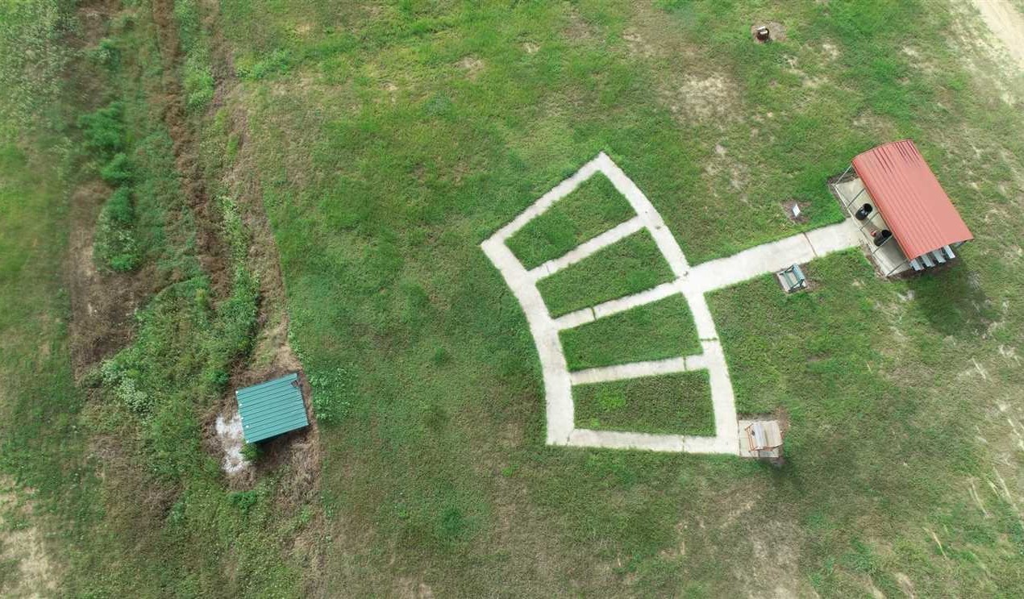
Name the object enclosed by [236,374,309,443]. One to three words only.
shed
